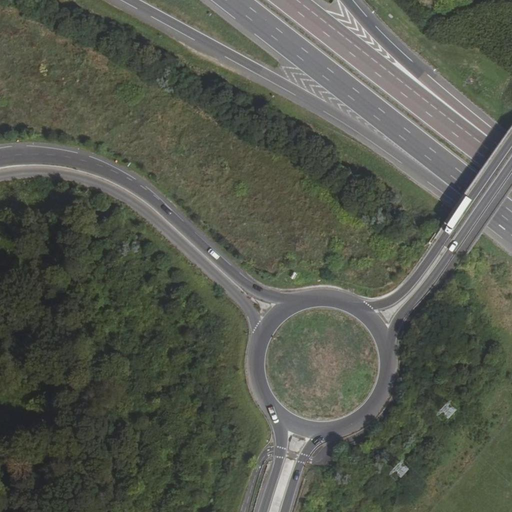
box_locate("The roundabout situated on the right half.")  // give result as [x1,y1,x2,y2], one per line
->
[246,282,398,440]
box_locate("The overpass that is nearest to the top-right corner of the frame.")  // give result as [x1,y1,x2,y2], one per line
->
[443,124,512,253]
